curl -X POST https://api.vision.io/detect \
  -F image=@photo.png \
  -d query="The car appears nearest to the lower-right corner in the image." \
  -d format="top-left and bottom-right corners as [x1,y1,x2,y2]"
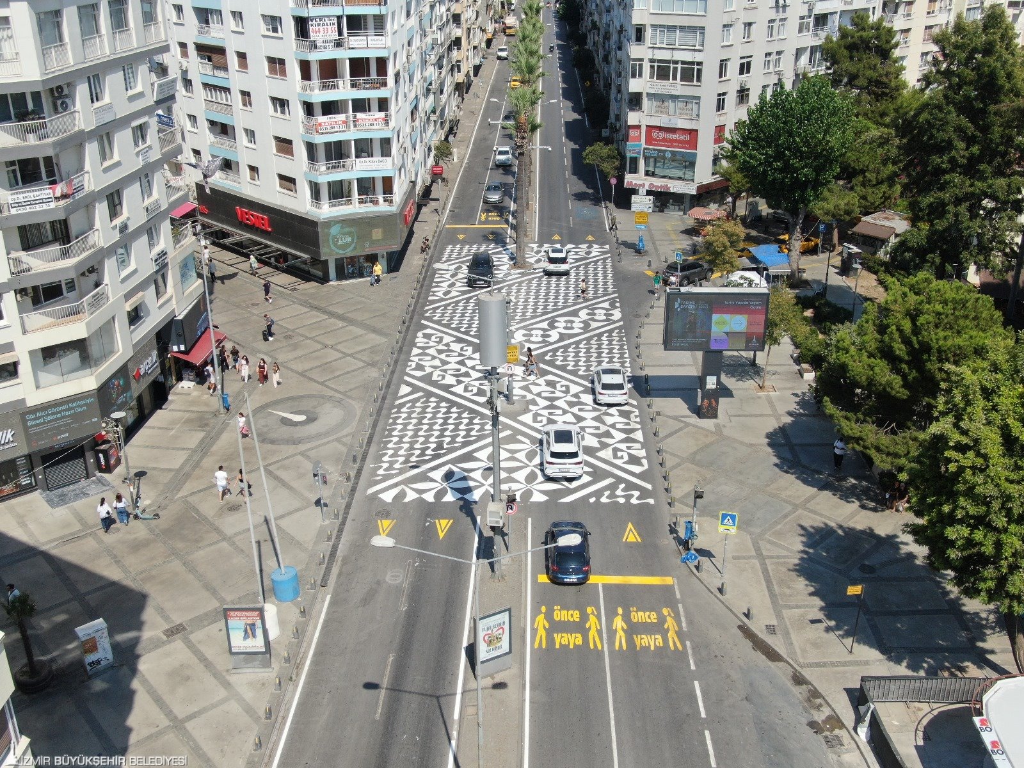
[541,512,593,580]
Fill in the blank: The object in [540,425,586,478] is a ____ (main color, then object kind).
white car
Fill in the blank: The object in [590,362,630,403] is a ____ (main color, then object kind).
white car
